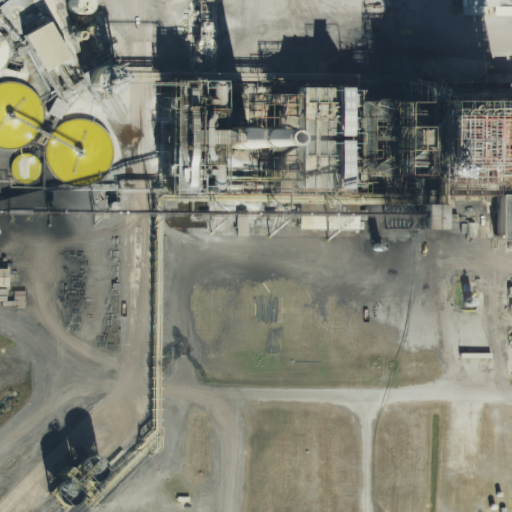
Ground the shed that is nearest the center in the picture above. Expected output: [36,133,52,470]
[236,214,250,236]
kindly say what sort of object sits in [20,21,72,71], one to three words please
building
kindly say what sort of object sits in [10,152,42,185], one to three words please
storage tank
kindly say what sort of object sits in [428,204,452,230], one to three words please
building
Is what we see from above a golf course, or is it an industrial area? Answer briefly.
industrial area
